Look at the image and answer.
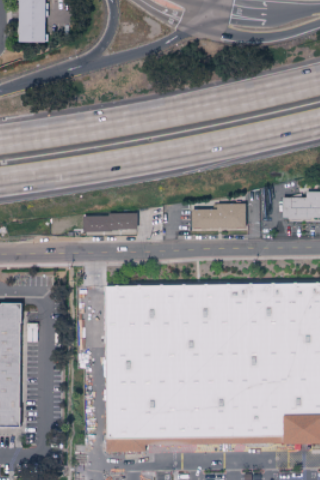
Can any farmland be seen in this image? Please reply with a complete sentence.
No, there's no farmland in this view.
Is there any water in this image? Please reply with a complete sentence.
No, water can't be seen anywhere here.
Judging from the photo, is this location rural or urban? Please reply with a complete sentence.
This place is urban.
